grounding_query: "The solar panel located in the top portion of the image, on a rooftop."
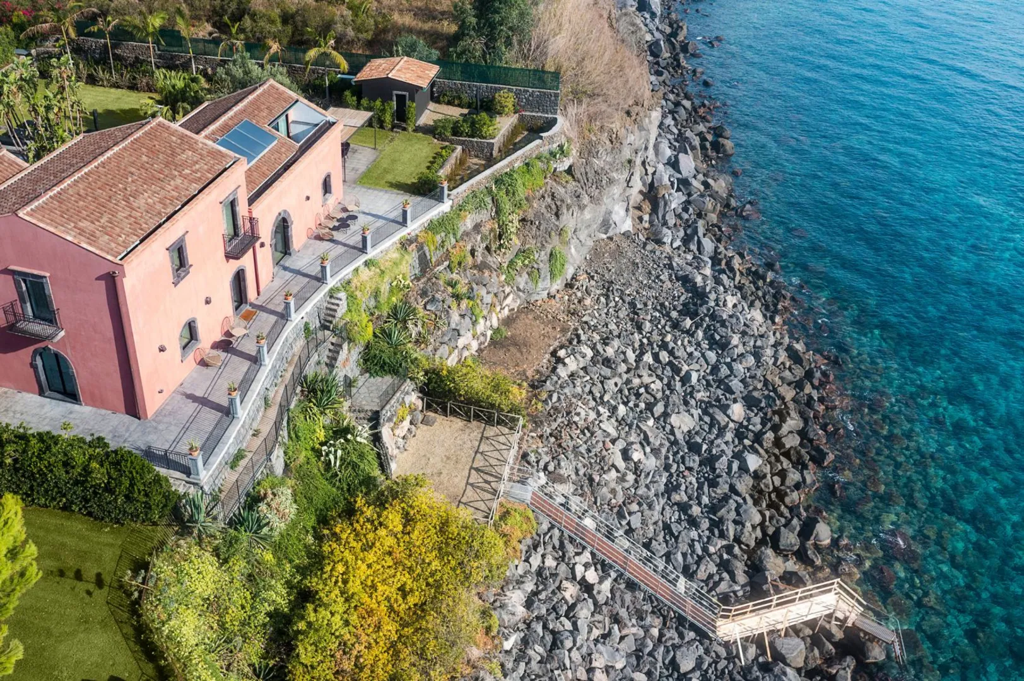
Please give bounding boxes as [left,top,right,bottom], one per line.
[216,116,282,164]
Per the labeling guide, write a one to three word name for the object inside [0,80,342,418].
house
